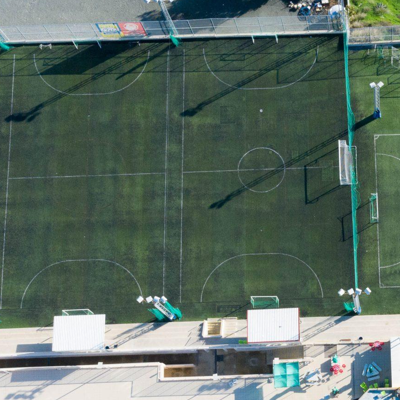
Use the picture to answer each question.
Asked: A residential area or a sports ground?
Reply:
sports ground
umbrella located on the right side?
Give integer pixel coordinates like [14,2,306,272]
[274,362,302,390]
